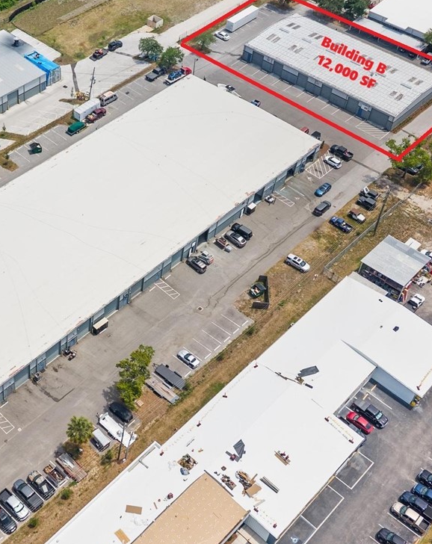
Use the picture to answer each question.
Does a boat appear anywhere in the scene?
Yes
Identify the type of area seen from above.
industrial area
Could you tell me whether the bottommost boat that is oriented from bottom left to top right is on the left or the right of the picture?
left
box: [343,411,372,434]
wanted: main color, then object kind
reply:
red car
